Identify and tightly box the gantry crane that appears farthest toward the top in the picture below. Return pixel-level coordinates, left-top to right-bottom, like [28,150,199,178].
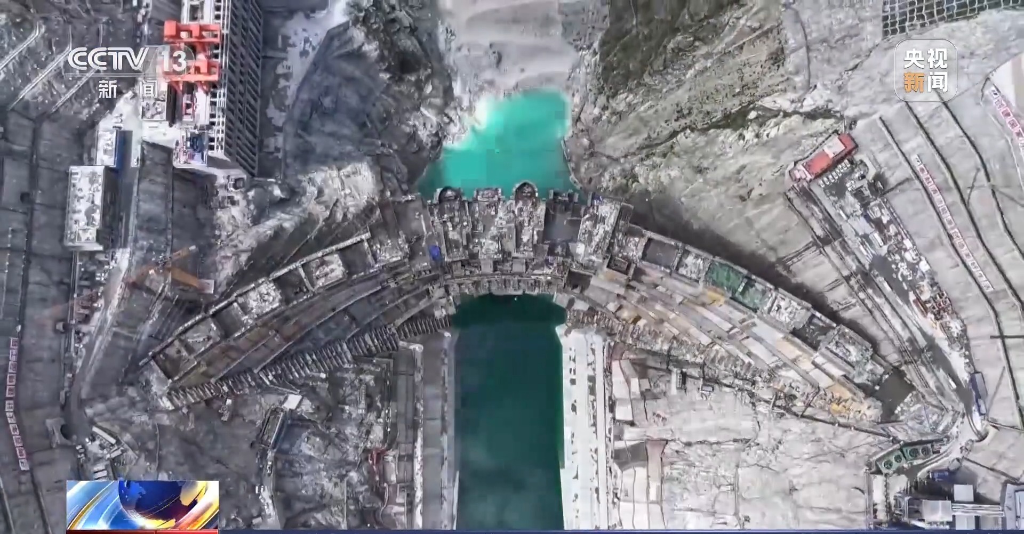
[161,18,225,56]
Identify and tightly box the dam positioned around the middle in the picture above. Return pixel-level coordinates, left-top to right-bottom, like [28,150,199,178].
[150,183,893,431]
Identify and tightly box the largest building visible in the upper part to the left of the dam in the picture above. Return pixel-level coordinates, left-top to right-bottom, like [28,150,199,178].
[63,165,117,250]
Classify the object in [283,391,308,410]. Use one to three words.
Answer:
shed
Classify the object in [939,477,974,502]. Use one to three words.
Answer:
building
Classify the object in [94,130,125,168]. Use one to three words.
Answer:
building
